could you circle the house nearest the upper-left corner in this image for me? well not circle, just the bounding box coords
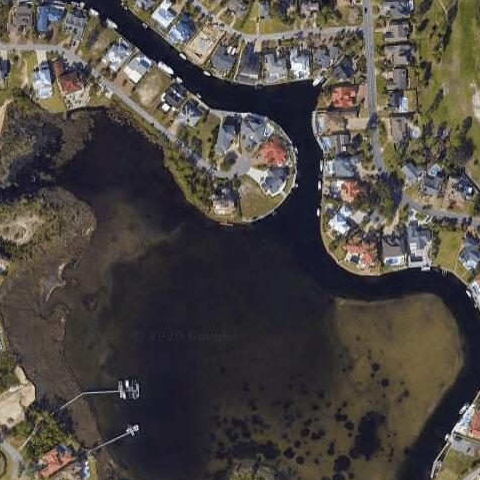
[13,4,34,28]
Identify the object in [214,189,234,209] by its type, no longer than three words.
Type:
house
